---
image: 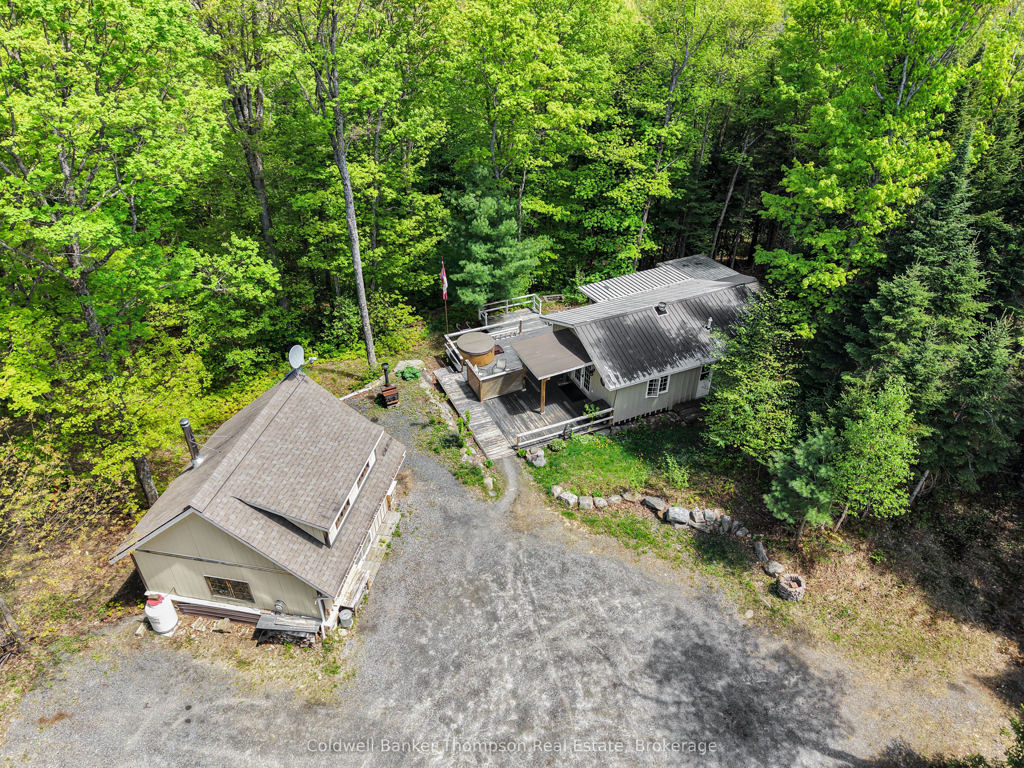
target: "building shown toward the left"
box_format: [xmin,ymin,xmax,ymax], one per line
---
[108,372,408,645]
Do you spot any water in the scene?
No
